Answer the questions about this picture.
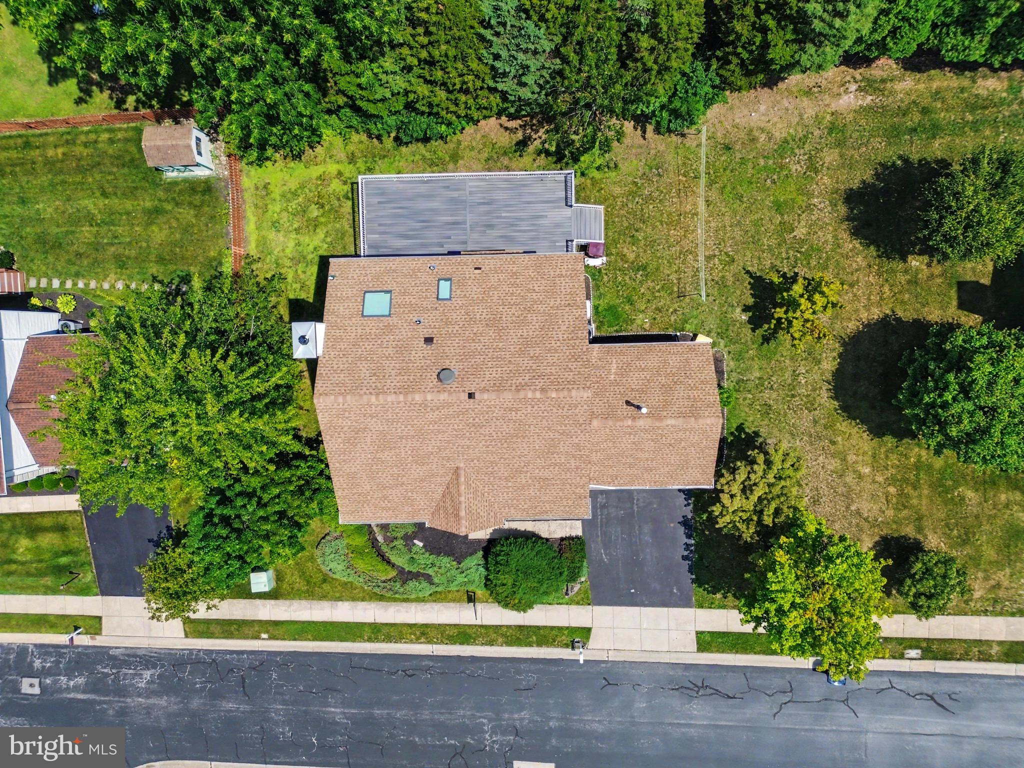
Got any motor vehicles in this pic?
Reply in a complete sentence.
No, there appears to be no motor vehicle in this shot.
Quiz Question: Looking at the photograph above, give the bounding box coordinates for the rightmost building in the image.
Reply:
[293,250,724,535]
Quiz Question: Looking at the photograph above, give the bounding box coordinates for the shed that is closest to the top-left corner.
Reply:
[140,124,218,181]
